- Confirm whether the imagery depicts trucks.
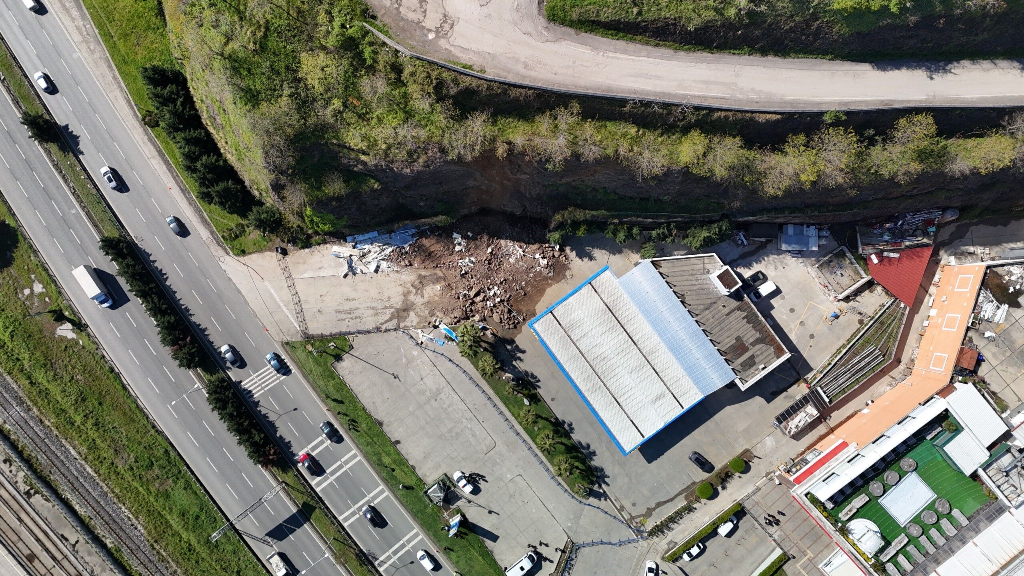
Yes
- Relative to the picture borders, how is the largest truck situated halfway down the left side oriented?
at an angle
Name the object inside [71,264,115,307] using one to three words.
truck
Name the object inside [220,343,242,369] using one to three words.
car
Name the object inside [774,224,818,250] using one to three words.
shed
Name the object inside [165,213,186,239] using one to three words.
car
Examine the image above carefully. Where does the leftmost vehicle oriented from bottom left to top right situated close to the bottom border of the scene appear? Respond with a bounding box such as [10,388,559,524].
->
[501,550,535,576]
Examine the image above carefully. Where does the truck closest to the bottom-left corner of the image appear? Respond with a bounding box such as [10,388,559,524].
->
[262,547,291,576]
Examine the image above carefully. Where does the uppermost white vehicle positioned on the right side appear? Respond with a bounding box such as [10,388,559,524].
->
[748,281,777,302]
